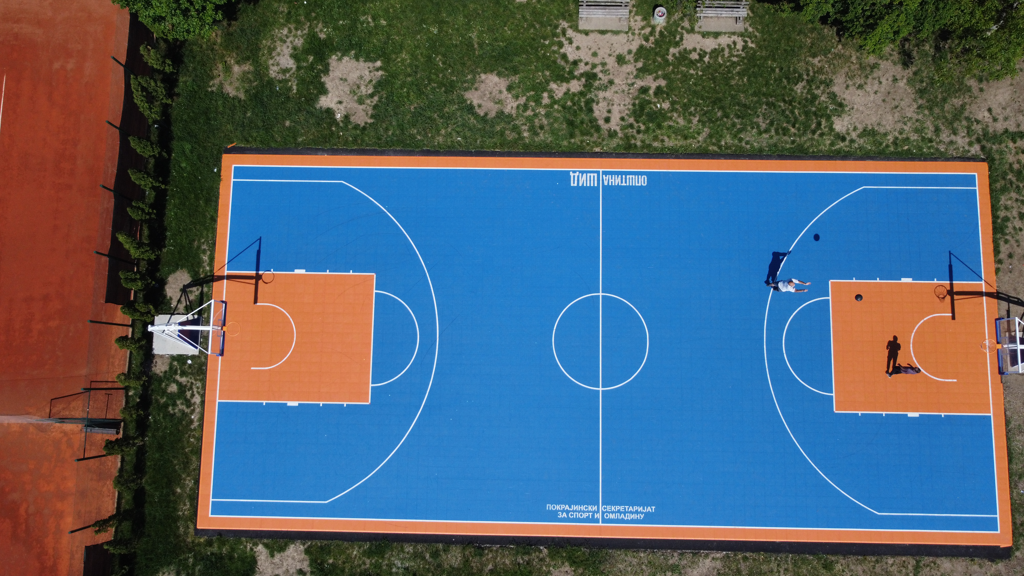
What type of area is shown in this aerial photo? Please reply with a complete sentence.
This image shows a sports ground.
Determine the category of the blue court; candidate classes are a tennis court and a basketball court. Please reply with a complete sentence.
From above, the blue court can be identified as a basketball court.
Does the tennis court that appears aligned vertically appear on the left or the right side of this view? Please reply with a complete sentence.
The tennis court that appears aligned vertically is on the left side of the image.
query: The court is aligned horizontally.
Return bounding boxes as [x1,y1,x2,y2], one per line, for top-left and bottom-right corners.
[195,146,1012,559]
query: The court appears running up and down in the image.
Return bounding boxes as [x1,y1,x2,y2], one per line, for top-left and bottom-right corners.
[0,0,132,576]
